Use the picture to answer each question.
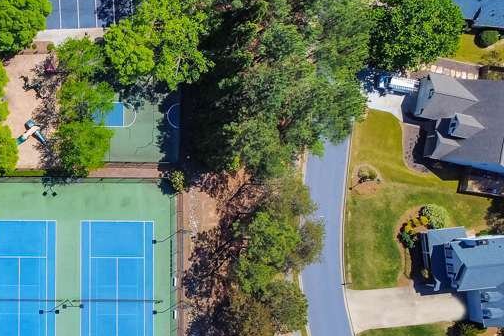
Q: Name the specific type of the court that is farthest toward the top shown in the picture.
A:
basketball court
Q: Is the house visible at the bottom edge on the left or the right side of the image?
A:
right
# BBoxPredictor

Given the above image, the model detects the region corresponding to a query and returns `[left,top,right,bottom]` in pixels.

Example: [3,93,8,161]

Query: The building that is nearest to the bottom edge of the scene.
[418,227,504,332]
